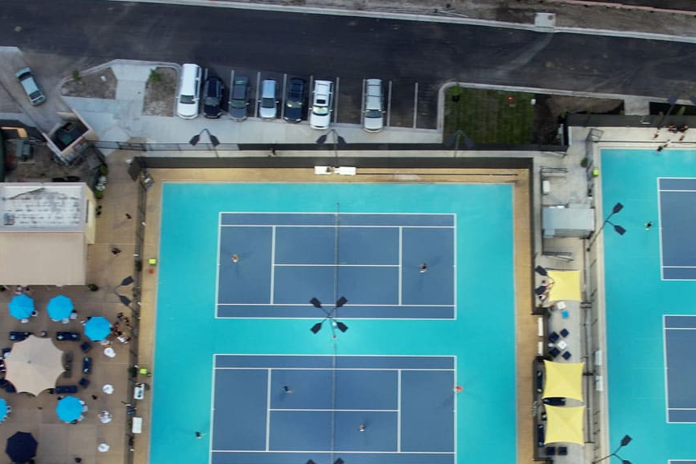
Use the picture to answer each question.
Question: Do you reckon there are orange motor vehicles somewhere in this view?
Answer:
No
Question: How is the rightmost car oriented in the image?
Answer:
up and down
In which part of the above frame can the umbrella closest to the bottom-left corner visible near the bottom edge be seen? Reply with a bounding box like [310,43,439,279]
[7,431,40,462]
